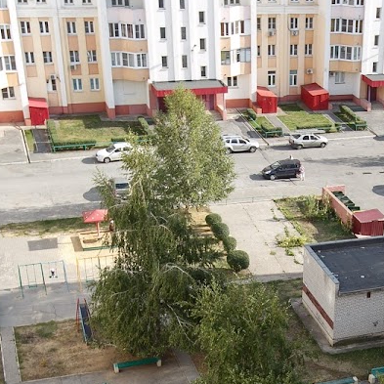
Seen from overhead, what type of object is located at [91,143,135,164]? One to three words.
car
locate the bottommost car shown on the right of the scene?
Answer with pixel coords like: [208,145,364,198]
[260,159,305,182]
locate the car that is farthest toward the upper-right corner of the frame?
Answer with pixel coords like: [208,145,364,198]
[285,132,329,151]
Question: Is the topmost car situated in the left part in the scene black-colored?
No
